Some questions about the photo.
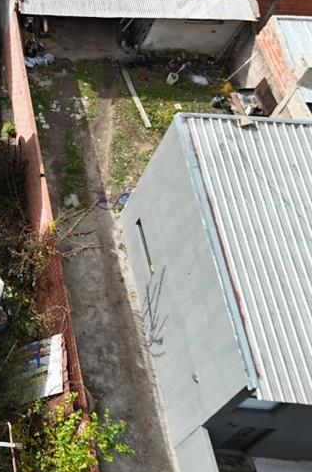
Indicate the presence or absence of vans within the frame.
No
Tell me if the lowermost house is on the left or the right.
right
